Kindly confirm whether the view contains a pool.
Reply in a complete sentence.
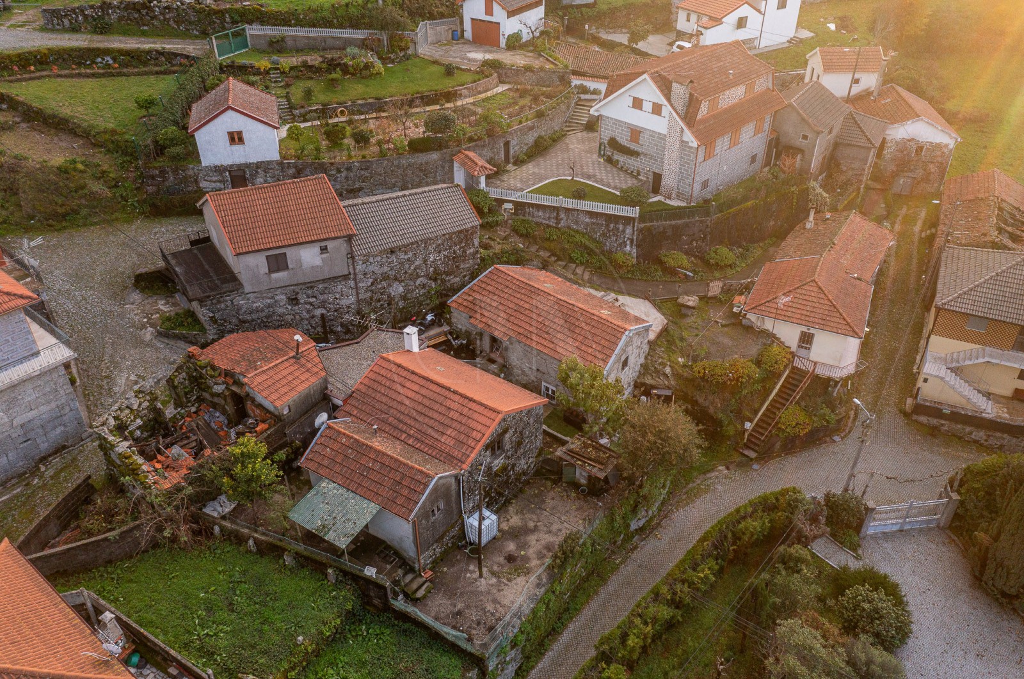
No, the photo shows no pool.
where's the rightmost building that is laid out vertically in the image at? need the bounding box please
[916,190,1024,414]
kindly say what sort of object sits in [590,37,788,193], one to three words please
house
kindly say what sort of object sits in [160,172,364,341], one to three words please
house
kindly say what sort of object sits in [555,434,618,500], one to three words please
shed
